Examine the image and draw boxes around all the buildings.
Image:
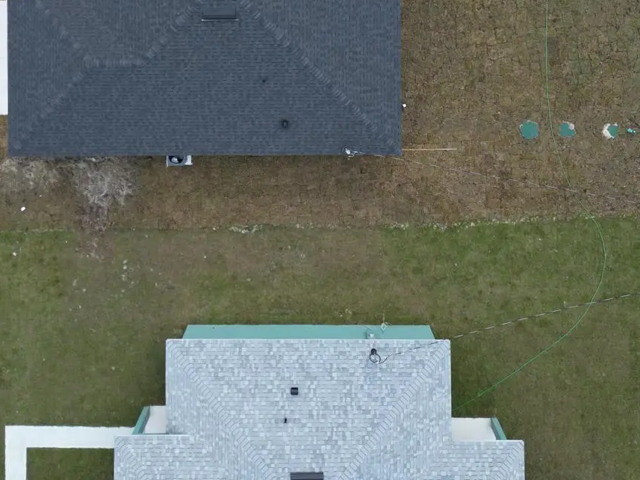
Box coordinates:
[113,309,524,480]
[7,0,401,160]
